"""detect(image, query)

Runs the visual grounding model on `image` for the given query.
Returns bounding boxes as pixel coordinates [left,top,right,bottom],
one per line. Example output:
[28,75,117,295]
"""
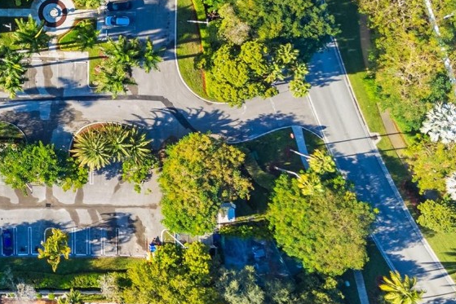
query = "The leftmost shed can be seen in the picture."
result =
[220,207,242,229]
